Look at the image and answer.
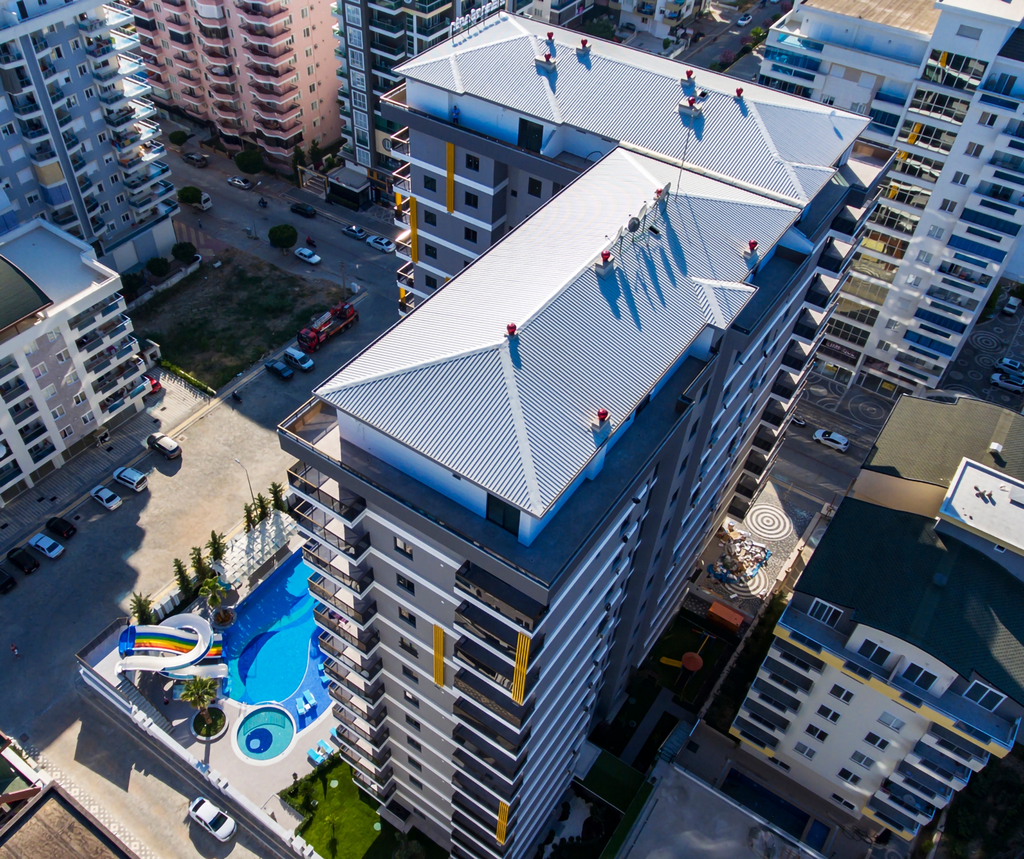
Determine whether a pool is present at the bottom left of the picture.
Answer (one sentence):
Yes, a pool is visible at the bottom left of the picture.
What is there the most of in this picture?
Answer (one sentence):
Most of the picture is covered by buildings.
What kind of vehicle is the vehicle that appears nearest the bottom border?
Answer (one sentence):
It turns out the vehicle that appears nearest the bottom border is an automobile.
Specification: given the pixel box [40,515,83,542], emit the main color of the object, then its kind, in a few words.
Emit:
black car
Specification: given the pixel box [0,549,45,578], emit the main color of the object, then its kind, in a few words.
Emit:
black car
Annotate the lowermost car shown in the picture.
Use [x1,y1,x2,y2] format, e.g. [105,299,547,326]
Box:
[179,798,240,847]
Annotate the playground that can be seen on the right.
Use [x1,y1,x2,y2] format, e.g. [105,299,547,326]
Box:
[633,621,734,731]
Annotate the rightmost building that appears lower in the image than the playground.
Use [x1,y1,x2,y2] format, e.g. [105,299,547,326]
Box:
[614,763,819,859]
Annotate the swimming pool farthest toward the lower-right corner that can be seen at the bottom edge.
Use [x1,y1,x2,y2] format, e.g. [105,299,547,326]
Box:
[713,756,834,858]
